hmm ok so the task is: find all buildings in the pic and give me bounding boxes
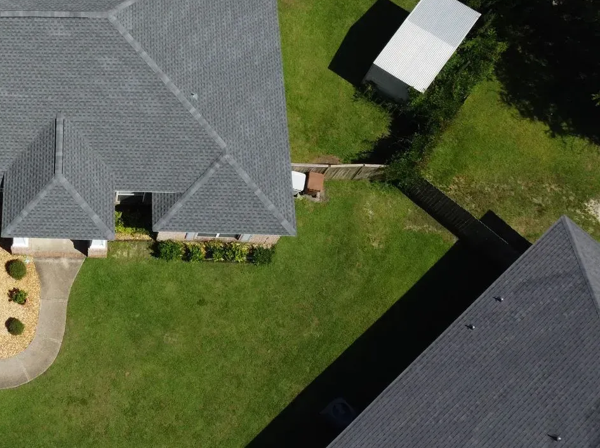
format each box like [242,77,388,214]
[326,217,600,448]
[364,0,482,107]
[0,0,298,263]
